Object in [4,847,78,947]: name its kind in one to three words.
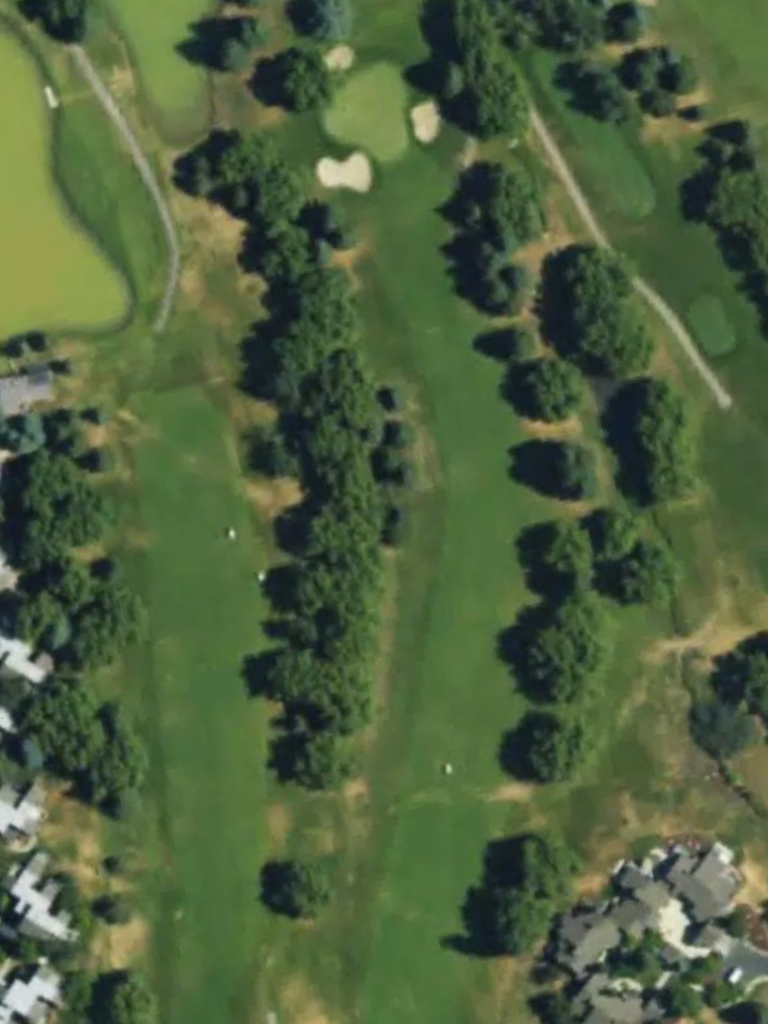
house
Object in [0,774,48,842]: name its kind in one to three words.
house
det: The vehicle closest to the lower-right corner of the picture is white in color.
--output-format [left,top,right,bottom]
[730,967,742,983]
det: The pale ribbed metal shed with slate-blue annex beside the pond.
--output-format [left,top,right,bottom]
[0,365,55,417]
